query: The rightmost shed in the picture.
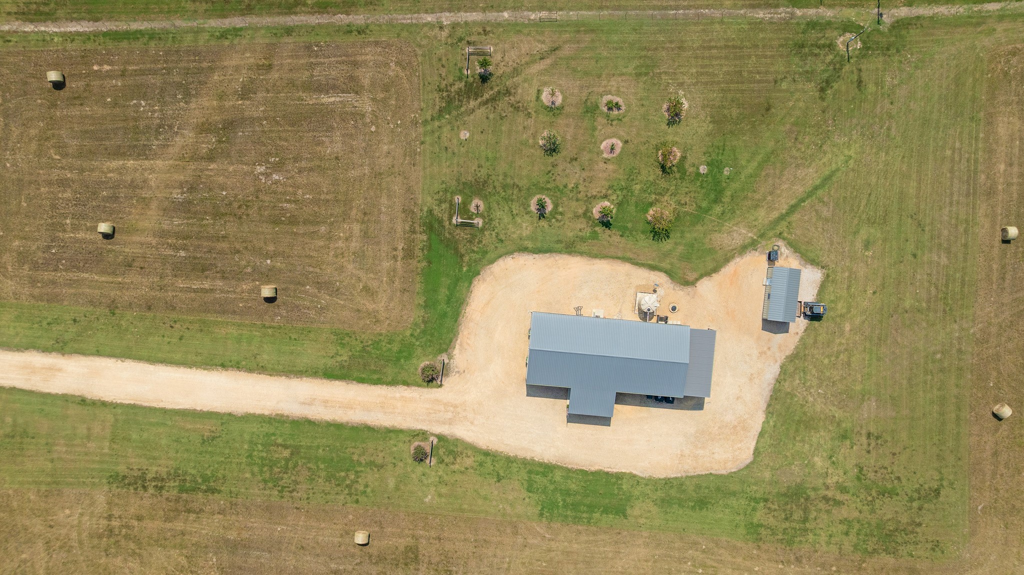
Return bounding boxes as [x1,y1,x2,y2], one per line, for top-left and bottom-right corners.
[762,267,801,323]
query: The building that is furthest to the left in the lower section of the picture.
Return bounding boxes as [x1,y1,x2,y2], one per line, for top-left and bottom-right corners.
[525,311,716,418]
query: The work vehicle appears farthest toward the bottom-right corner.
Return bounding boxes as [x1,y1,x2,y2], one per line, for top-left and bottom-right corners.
[796,300,827,317]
